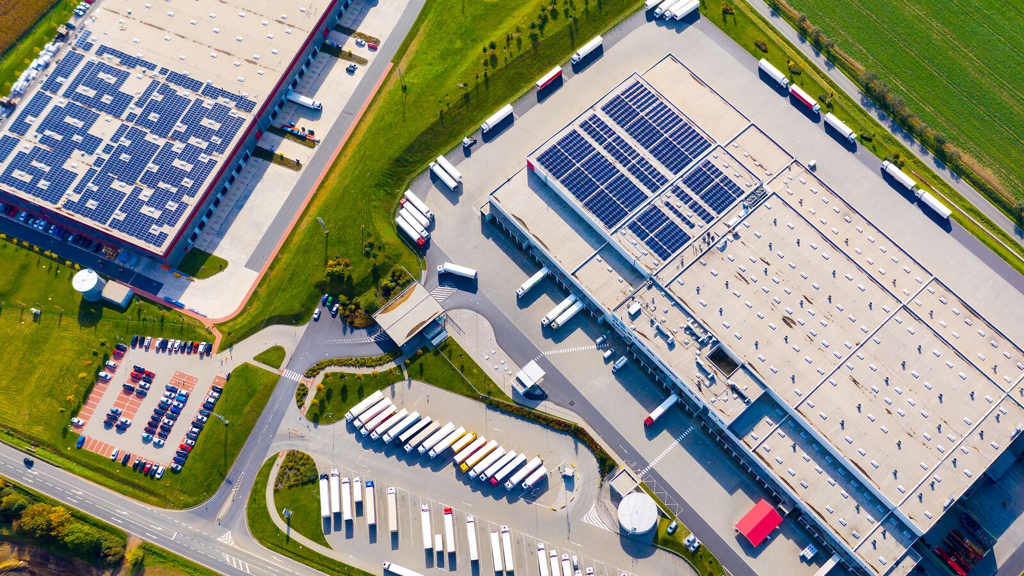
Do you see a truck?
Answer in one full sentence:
Yes, the picture does show a truck.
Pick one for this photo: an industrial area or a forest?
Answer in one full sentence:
The picture captures an industrial area.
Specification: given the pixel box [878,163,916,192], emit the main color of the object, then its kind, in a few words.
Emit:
white truck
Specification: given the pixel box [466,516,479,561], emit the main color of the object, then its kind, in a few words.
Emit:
white vehicle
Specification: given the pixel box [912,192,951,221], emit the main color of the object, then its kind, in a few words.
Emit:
white truck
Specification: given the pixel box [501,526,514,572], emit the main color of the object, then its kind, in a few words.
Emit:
white vehicle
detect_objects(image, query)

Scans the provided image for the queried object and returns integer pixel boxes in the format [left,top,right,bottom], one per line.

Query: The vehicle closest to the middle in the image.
[516,268,550,299]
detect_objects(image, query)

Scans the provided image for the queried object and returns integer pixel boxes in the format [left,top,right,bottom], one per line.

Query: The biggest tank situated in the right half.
[616,492,658,535]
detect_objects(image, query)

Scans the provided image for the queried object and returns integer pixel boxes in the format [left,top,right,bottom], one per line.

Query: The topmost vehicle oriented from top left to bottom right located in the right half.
[756,60,788,91]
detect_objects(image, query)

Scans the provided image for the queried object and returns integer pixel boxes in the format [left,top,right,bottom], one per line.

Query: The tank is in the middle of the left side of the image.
[72,269,108,300]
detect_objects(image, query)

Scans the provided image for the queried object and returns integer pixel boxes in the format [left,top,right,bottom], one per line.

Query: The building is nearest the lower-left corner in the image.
[101,280,136,308]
